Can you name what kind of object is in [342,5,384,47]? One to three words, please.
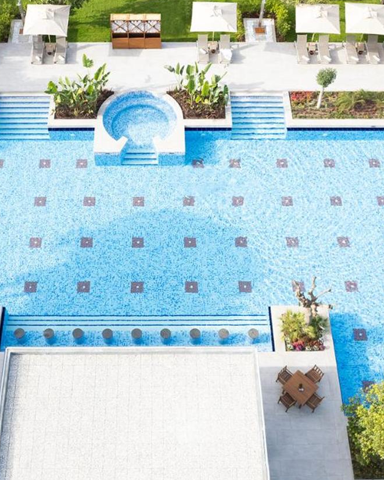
umbrella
